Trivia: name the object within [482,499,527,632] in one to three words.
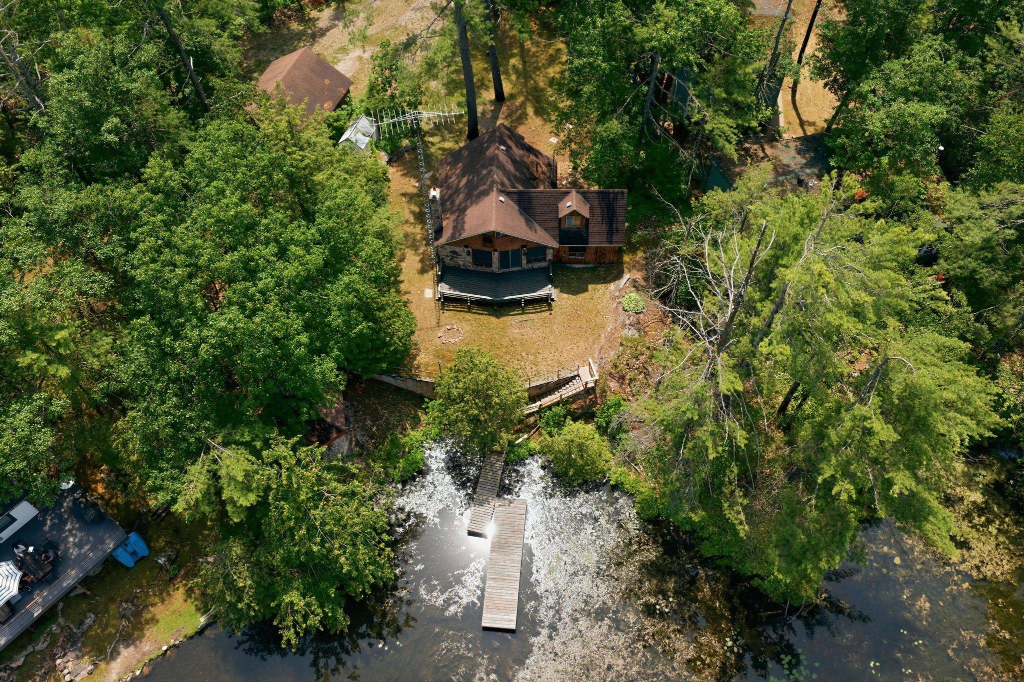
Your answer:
pier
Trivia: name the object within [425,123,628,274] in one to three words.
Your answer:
building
